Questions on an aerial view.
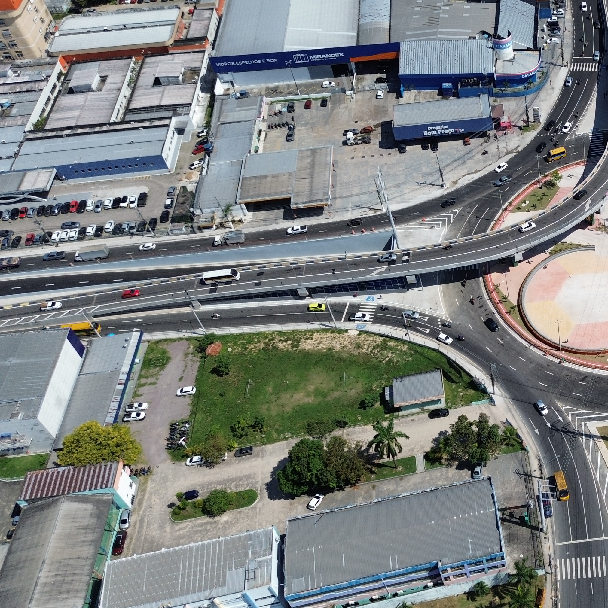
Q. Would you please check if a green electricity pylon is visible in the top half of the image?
No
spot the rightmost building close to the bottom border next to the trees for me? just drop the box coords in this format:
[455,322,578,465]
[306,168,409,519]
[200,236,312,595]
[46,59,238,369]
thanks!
[284,477,508,608]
